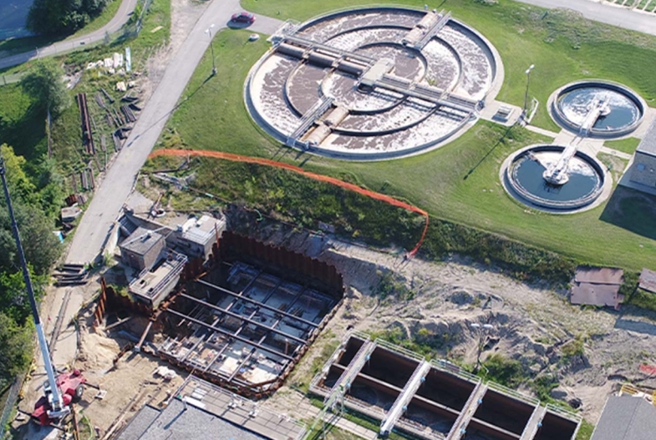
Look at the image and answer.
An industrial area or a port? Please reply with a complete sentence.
What you see here is an industrial area.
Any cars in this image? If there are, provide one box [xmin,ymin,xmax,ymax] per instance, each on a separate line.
[229,11,254,24]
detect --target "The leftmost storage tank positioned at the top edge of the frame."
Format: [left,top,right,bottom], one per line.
[243,1,502,163]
